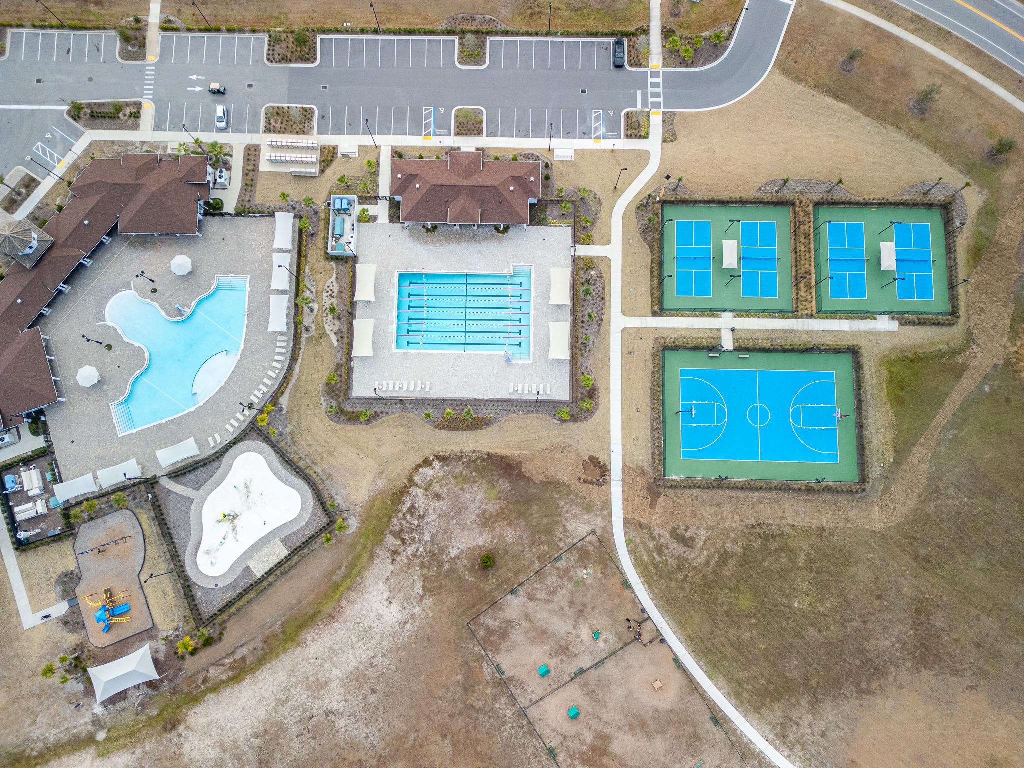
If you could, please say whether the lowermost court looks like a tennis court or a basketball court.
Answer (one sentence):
I'd say the lowermost court is a basketball court.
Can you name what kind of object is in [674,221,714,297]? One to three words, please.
sports court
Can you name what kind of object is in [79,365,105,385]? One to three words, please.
umbrella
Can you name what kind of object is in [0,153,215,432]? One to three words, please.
building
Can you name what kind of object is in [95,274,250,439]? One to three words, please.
swimming pool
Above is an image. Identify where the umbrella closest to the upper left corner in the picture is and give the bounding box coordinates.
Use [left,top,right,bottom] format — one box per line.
[172,256,195,277]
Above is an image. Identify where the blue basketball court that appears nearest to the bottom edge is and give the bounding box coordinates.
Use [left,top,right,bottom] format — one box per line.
[663,351,859,482]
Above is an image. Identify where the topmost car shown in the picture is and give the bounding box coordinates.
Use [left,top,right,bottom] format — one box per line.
[614,38,627,66]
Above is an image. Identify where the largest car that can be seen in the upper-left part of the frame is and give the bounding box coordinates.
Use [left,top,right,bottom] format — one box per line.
[214,104,227,129]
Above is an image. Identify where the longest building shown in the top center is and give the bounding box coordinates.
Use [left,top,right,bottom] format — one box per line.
[390,151,542,230]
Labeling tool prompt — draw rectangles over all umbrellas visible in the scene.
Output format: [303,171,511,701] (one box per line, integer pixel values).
[79,365,105,385]
[172,256,195,277]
